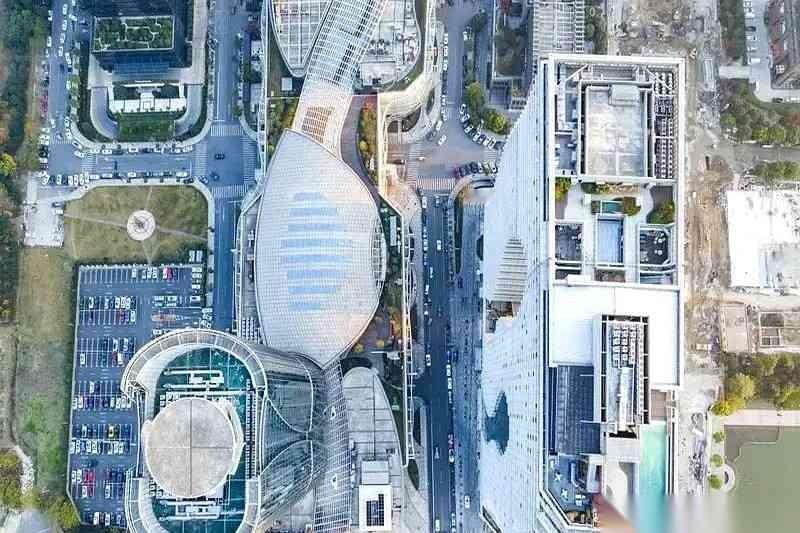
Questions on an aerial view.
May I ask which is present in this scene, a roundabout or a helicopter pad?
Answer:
helicopter pad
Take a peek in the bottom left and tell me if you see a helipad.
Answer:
Yes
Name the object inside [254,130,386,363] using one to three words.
building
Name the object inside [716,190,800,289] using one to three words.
building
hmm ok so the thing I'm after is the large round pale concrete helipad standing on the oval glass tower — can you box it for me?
[141,394,252,498]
